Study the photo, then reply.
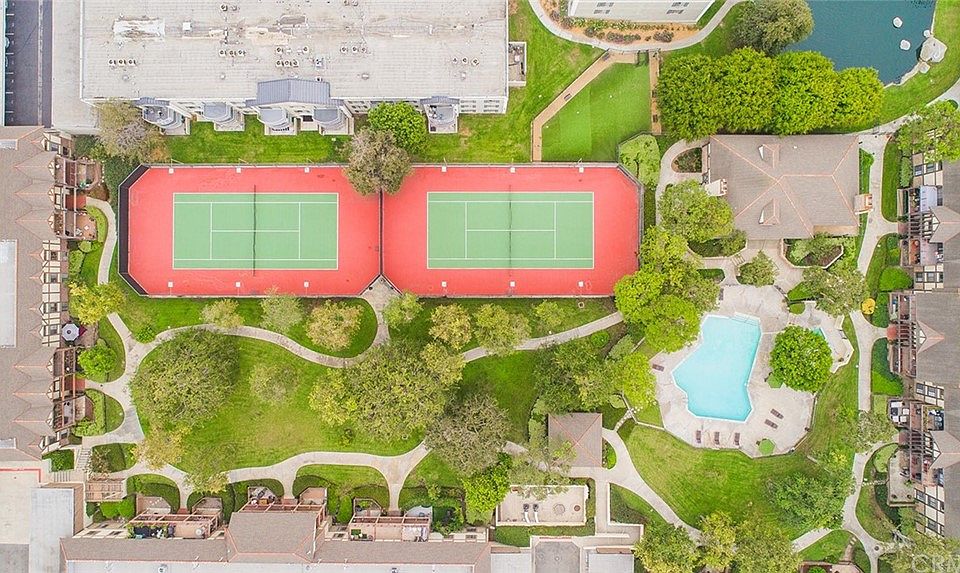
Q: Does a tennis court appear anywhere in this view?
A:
Yes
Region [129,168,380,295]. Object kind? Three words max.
tennis court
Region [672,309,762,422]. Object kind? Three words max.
swimming pool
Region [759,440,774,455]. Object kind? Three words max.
umbrella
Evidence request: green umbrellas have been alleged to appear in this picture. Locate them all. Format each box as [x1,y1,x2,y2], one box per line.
[766,374,779,388]
[759,440,774,455]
